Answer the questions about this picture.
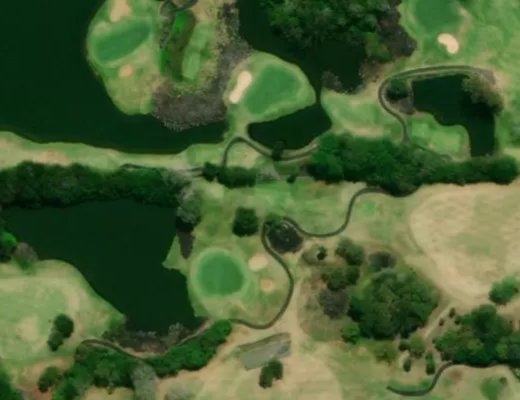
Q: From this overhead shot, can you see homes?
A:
No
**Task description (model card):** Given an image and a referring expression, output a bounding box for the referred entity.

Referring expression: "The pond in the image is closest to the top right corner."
[412,73,497,161]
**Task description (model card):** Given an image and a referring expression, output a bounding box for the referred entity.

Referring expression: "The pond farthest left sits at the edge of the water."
[238,0,367,150]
